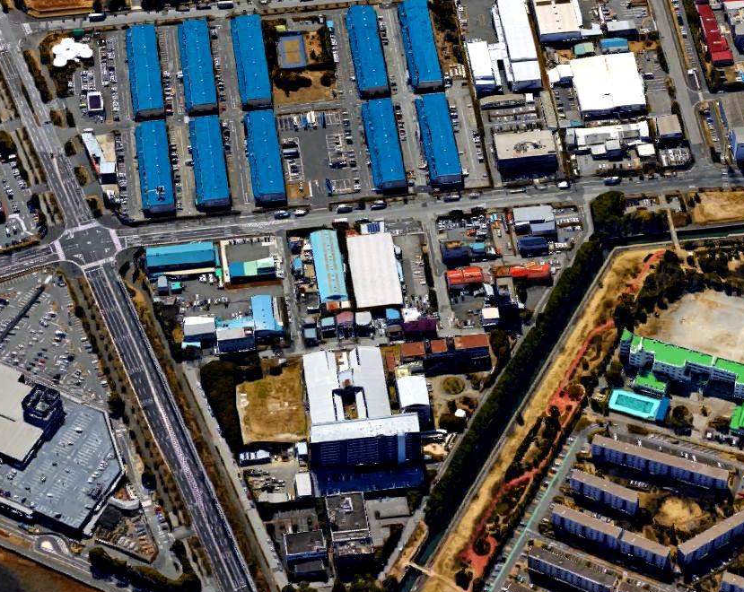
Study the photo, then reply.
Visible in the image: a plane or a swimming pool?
swimming pool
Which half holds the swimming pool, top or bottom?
bottom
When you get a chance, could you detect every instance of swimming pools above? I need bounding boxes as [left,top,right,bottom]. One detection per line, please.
[609,390,671,422]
